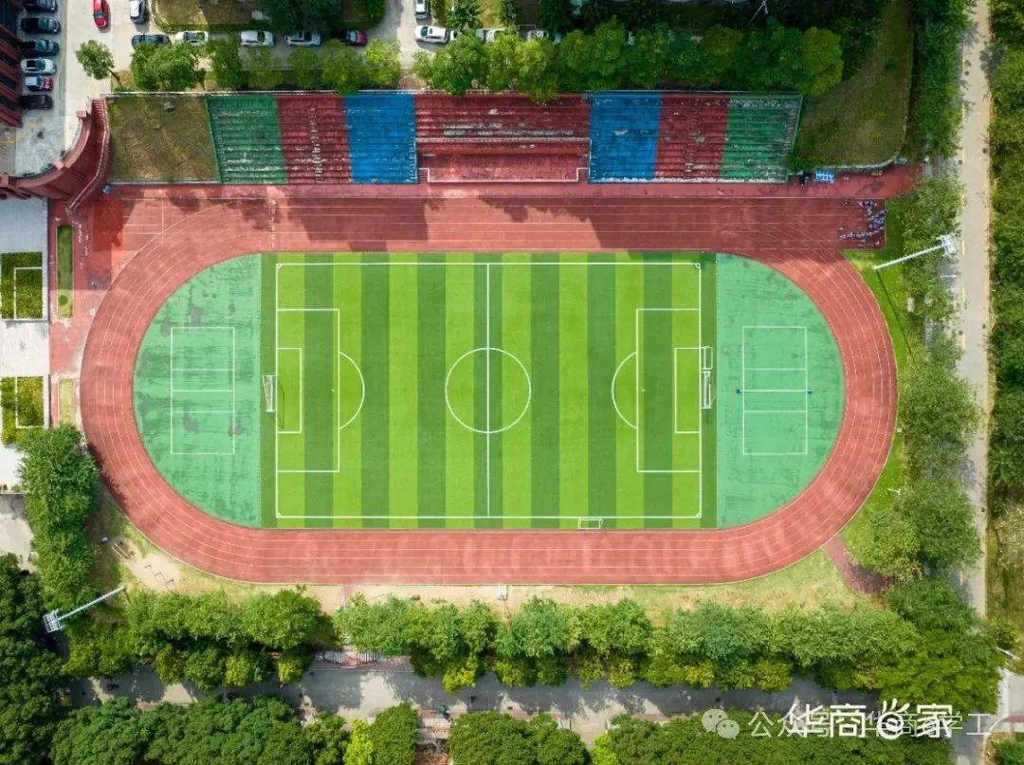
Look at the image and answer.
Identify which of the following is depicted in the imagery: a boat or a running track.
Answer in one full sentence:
Of the two, only a running track appears.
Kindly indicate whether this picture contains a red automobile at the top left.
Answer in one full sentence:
Yes, looking at the top left, one can make out a red automobile.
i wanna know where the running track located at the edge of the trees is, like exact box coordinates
[80,197,898,583]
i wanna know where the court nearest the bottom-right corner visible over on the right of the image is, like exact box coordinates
[717,253,843,527]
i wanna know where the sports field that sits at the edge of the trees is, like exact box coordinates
[261,252,716,528]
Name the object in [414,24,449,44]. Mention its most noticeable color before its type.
white car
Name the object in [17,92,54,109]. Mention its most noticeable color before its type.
black car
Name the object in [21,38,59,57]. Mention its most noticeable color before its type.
black car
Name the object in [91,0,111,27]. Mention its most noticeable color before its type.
red car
